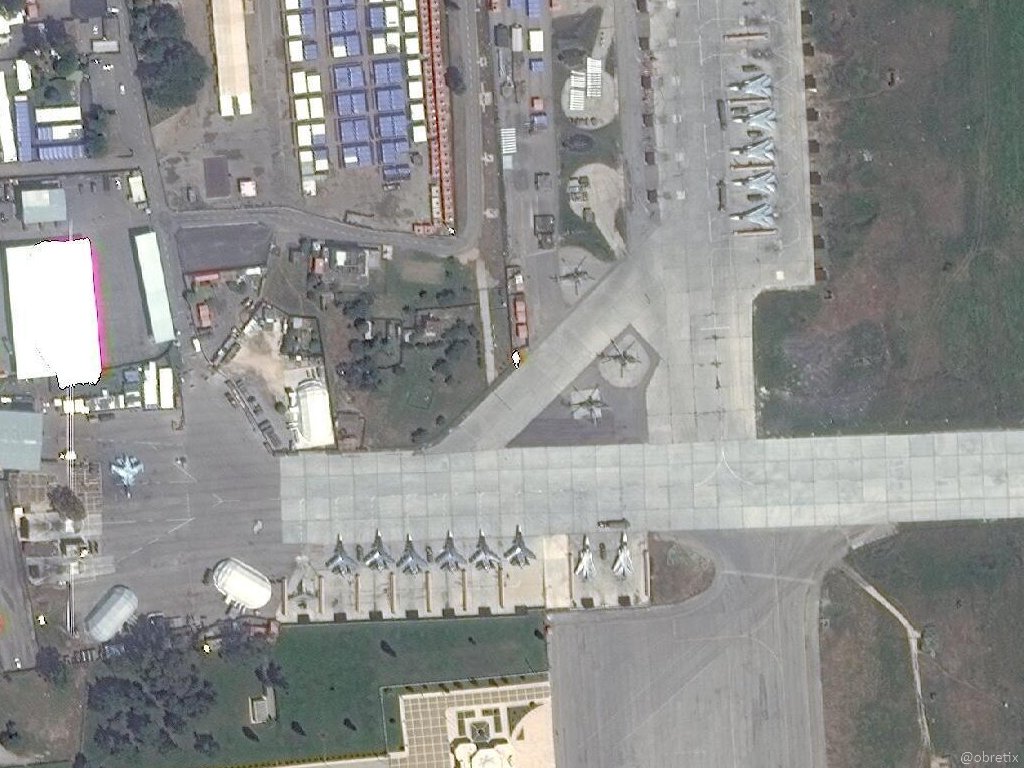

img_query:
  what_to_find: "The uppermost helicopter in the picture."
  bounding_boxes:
[550,257,596,296]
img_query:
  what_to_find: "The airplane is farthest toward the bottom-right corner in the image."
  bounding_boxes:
[615,533,634,577]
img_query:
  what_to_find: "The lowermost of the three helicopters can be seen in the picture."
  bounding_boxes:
[564,383,610,422]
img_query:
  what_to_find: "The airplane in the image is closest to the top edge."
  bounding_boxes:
[731,76,774,99]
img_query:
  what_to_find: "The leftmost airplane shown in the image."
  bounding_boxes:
[112,453,144,497]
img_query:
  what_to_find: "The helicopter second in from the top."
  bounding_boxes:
[596,340,642,378]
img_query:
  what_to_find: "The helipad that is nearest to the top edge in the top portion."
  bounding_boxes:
[556,243,614,304]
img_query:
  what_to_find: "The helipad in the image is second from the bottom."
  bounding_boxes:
[598,334,650,388]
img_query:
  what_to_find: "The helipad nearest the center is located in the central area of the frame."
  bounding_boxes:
[571,388,601,418]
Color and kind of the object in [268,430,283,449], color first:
gray vehicle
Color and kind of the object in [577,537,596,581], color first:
white airplane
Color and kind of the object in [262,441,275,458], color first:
gray vehicle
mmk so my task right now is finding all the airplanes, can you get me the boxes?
[731,76,774,99]
[577,537,596,581]
[733,107,777,130]
[112,453,144,497]
[366,529,397,572]
[436,530,468,574]
[398,535,428,576]
[327,534,359,577]
[733,171,776,194]
[471,529,501,573]
[730,205,775,228]
[615,533,634,577]
[287,555,318,597]
[731,139,774,163]
[506,525,538,569]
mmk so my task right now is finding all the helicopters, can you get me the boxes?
[550,257,596,296]
[596,340,642,378]
[564,383,610,422]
